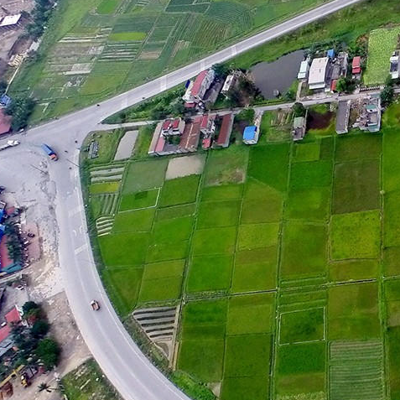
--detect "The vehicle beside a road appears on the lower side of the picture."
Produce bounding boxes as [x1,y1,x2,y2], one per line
[83,297,99,312]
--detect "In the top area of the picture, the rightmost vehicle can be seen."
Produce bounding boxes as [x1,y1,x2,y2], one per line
[33,138,58,159]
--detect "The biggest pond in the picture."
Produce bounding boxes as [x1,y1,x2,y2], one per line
[249,48,313,99]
